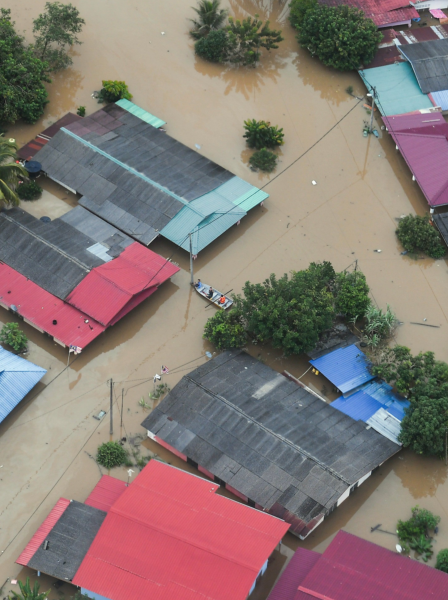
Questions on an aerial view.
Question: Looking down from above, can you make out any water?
Yes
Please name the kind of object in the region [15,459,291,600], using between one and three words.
house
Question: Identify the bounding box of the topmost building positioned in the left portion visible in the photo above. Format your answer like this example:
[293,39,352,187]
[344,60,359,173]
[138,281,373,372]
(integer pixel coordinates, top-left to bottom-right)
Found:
[17,98,270,263]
